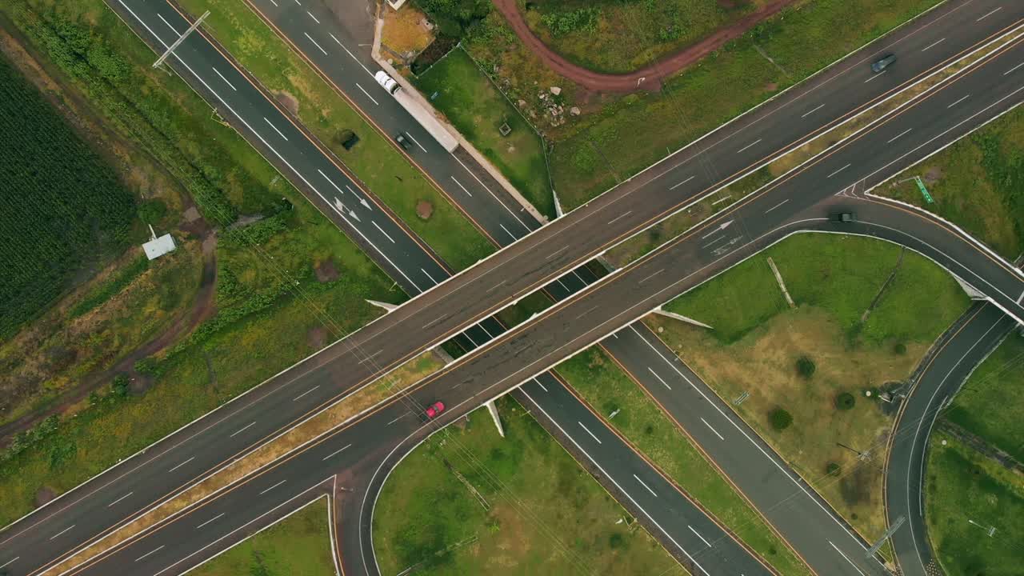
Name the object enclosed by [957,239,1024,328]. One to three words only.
bridge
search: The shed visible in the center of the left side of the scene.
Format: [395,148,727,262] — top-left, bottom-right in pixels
[143,234,180,259]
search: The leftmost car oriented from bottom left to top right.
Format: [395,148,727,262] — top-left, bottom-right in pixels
[424,401,447,419]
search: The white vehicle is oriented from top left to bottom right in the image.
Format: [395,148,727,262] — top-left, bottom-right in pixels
[375,72,460,156]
